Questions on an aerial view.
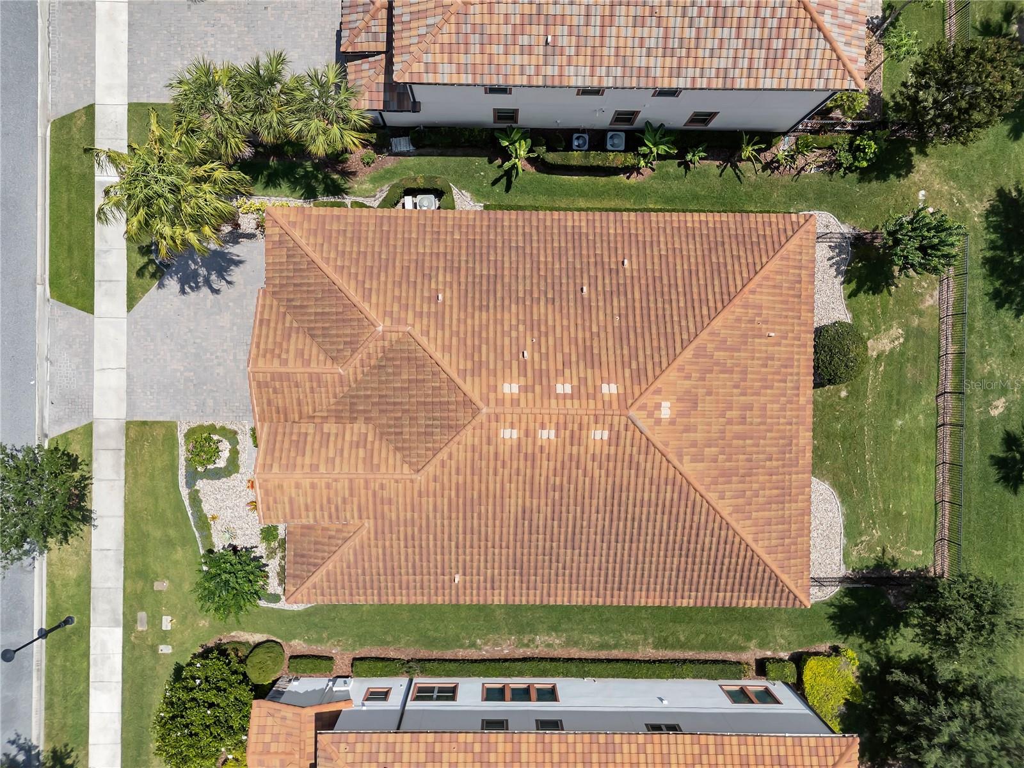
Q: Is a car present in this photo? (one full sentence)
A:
No, there's no car here.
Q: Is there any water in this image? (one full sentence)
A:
No, there's no water in this view.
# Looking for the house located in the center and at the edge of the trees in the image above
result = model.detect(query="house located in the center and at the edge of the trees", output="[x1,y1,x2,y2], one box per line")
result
[246,207,817,610]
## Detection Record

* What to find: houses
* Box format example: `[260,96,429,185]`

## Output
[339,0,867,137]
[246,207,817,610]
[242,673,861,768]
